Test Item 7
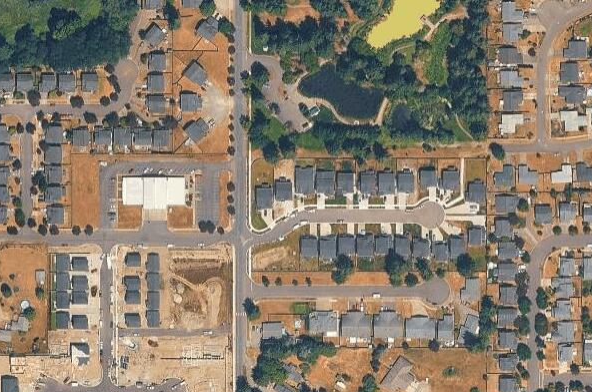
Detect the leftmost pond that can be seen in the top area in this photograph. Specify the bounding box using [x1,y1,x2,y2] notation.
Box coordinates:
[301,65,384,119]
